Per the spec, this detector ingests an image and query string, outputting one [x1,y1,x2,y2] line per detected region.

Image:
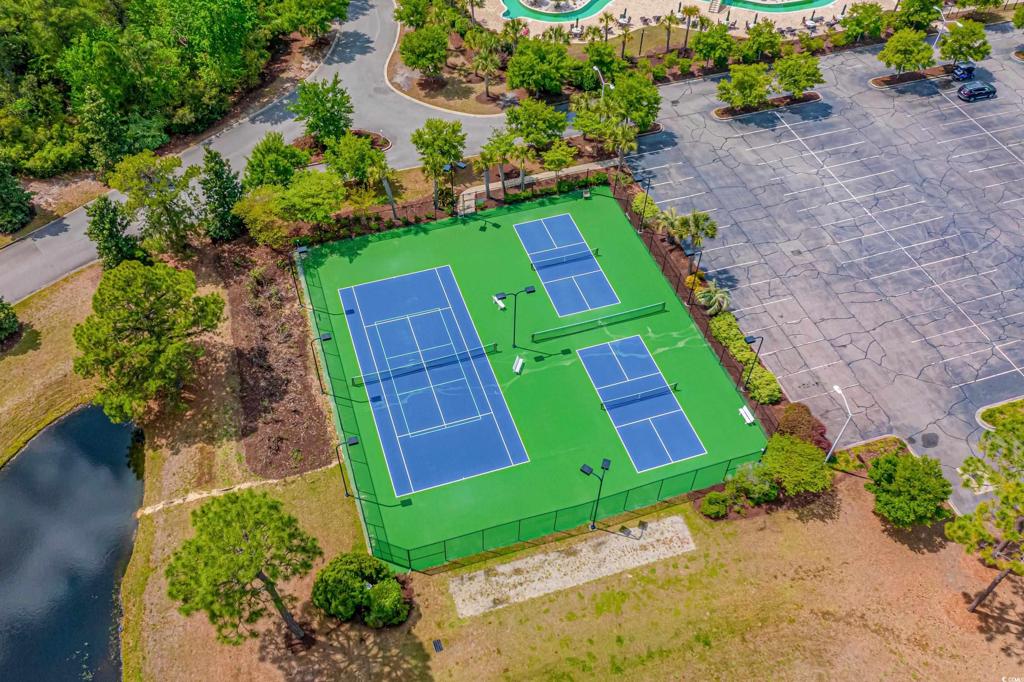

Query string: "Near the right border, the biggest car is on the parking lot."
[958,78,997,99]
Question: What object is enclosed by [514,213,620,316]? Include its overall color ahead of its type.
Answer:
blue sports court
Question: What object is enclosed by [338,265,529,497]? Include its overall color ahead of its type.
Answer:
blue tennis court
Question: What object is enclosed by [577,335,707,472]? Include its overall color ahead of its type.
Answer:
blue sports court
